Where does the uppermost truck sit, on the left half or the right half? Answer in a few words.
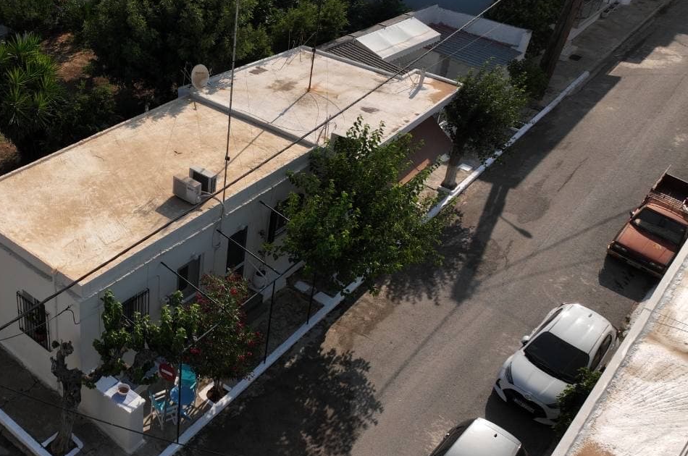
right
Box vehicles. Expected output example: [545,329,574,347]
[493,304,621,430]
[420,415,533,456]
[604,184,688,281]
